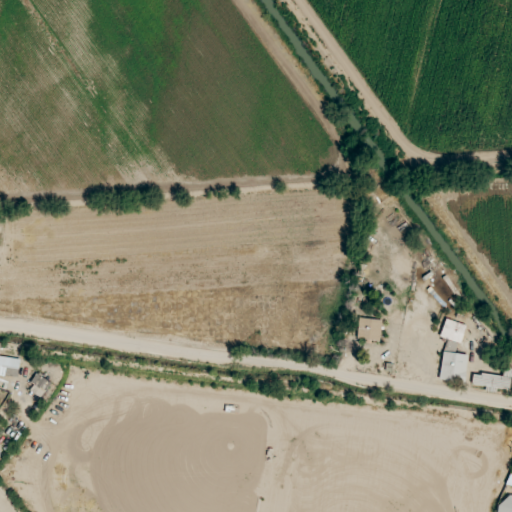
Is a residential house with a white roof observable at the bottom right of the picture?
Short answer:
Yes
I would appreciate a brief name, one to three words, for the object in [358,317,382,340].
house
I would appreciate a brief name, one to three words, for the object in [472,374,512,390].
house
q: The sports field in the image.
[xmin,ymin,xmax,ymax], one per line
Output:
[92,398,268,512]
